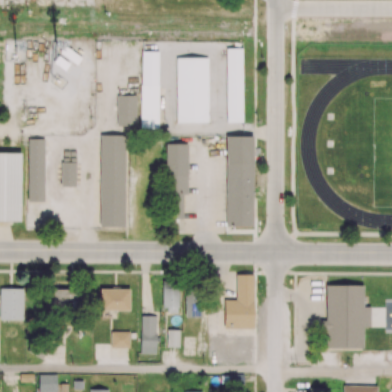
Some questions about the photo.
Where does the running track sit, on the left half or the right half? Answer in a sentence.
The running track appears in the right half of the scene.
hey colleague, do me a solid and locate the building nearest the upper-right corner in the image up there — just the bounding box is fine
[228,47,244,122]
